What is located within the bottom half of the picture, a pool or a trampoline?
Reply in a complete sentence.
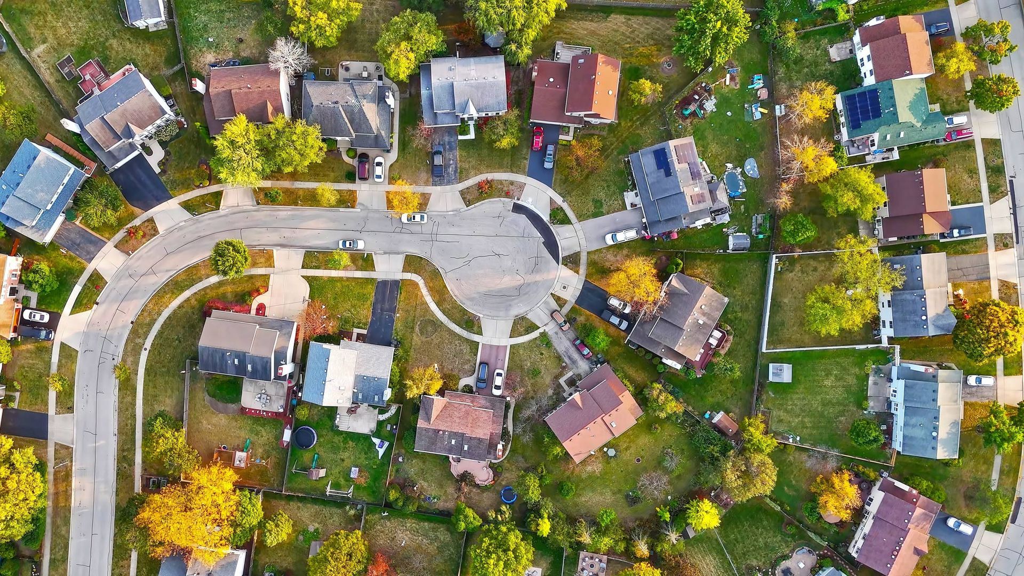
It is a trampoline that can be seen within the bottom half of the picture.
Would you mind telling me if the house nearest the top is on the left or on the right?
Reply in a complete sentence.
The house nearest the top sits on the left side.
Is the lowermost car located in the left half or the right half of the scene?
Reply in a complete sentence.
The lowermost car appears in the right half of the scene.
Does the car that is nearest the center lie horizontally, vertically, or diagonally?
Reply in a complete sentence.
In this picture, the car that is nearest the center lies diagonally.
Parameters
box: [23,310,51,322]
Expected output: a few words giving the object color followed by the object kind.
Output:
white vehicle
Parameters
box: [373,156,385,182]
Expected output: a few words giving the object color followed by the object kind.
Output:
white vehicle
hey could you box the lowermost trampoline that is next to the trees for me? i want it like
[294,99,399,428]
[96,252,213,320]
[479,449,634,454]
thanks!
[501,487,517,503]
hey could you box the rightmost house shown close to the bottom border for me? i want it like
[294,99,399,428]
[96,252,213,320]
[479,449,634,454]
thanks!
[846,478,941,576]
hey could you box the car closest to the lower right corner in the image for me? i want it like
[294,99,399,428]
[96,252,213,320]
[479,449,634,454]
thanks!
[944,515,975,537]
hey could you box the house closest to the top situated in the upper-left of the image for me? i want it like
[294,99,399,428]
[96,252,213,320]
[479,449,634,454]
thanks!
[124,0,168,29]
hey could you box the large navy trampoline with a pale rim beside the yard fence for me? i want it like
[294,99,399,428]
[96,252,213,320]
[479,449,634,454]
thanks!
[291,425,318,451]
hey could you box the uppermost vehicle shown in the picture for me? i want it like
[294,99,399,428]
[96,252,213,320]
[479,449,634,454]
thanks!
[926,22,951,35]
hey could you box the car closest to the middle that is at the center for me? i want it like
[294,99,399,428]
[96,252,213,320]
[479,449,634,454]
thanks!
[549,307,571,332]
